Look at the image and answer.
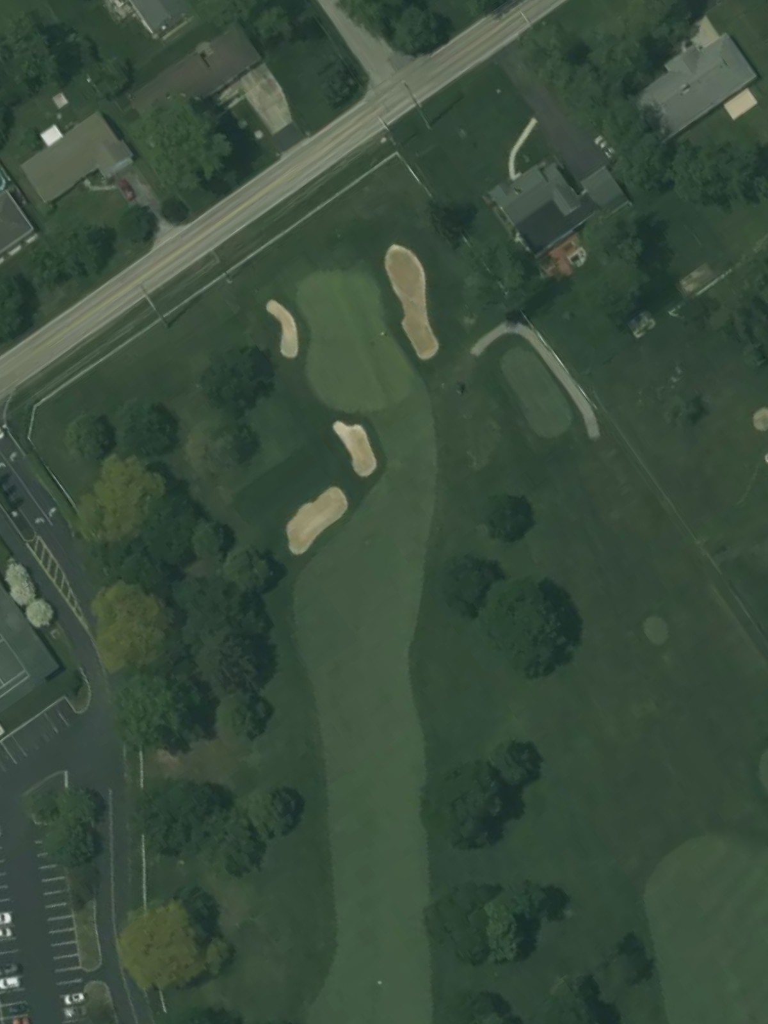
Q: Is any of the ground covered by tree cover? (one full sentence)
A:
Yes, some tree cover is visible.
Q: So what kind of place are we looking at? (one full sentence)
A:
This looks like a golf course.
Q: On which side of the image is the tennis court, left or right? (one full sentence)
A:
You can find the tennis court on the left side of the picture.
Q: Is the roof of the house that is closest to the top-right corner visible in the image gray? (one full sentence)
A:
Yes, gray is the color of the roof of the house that is closest to the top-right corner.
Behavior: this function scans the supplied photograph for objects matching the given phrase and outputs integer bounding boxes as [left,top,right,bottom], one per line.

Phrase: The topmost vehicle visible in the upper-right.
[595,136,612,156]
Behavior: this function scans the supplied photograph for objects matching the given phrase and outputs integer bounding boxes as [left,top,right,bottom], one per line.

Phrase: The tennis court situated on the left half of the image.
[0,591,62,715]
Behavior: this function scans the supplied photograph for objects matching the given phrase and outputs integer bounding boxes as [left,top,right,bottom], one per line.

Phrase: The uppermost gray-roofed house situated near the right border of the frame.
[635,32,758,136]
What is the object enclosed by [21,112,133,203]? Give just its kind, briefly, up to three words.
house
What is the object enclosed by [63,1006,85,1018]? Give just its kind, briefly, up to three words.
vehicle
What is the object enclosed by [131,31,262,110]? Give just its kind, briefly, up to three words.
house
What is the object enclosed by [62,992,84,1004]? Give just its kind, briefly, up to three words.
vehicle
